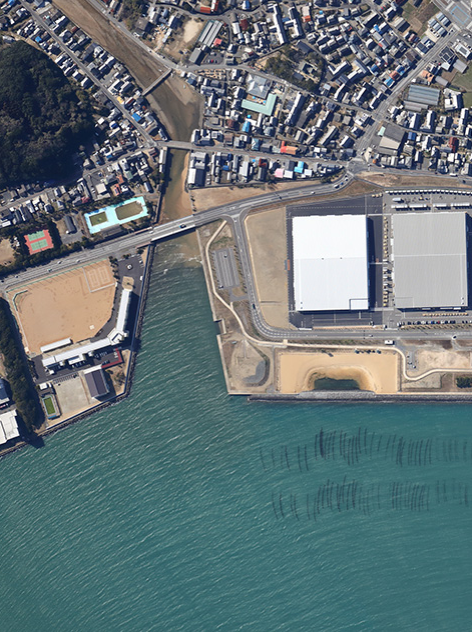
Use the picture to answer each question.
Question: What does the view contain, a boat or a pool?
pool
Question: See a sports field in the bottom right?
No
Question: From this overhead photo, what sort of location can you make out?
residential area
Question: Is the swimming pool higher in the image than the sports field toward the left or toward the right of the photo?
left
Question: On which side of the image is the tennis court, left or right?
left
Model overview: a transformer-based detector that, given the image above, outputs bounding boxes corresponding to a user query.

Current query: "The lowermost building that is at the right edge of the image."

[389,211,468,312]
